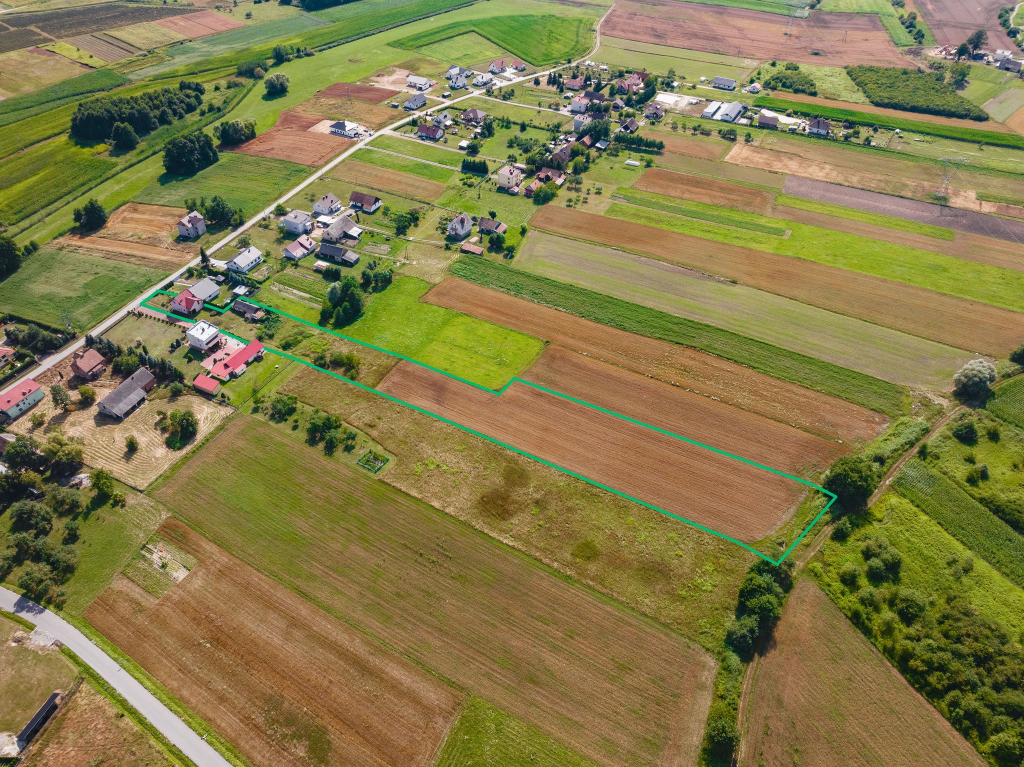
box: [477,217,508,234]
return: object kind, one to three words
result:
barn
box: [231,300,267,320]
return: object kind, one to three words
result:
shed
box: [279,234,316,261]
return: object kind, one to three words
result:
house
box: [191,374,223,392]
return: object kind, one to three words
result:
building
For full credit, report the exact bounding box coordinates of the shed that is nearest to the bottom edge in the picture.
[19,691,58,743]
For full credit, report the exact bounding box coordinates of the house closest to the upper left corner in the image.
[176,211,206,236]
